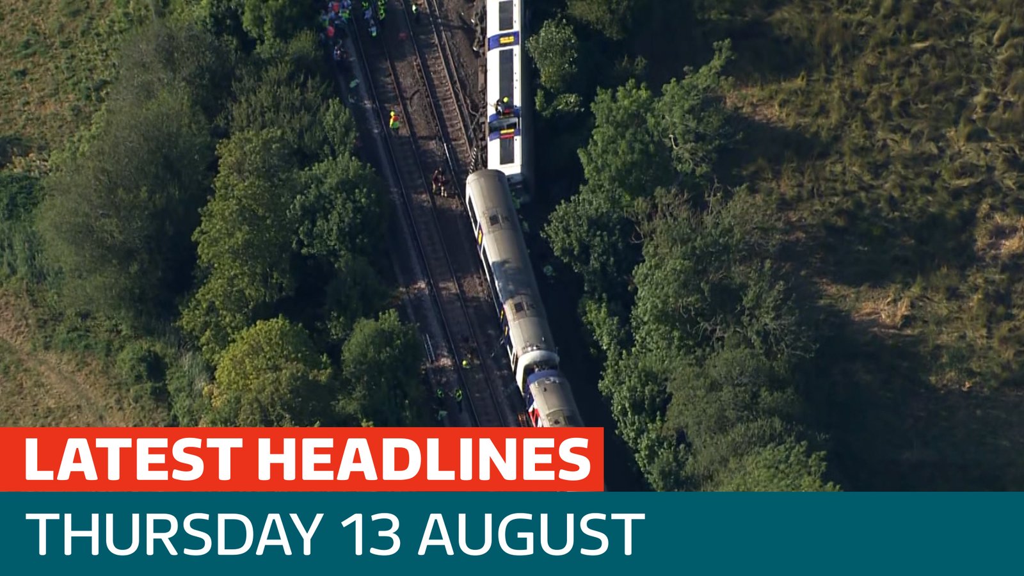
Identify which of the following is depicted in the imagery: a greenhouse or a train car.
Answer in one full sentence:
There is a train car in the scene.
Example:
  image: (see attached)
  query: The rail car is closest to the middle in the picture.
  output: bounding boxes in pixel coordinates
[461,169,561,390]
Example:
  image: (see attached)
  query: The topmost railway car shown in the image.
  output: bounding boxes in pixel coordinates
[474,0,535,209]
